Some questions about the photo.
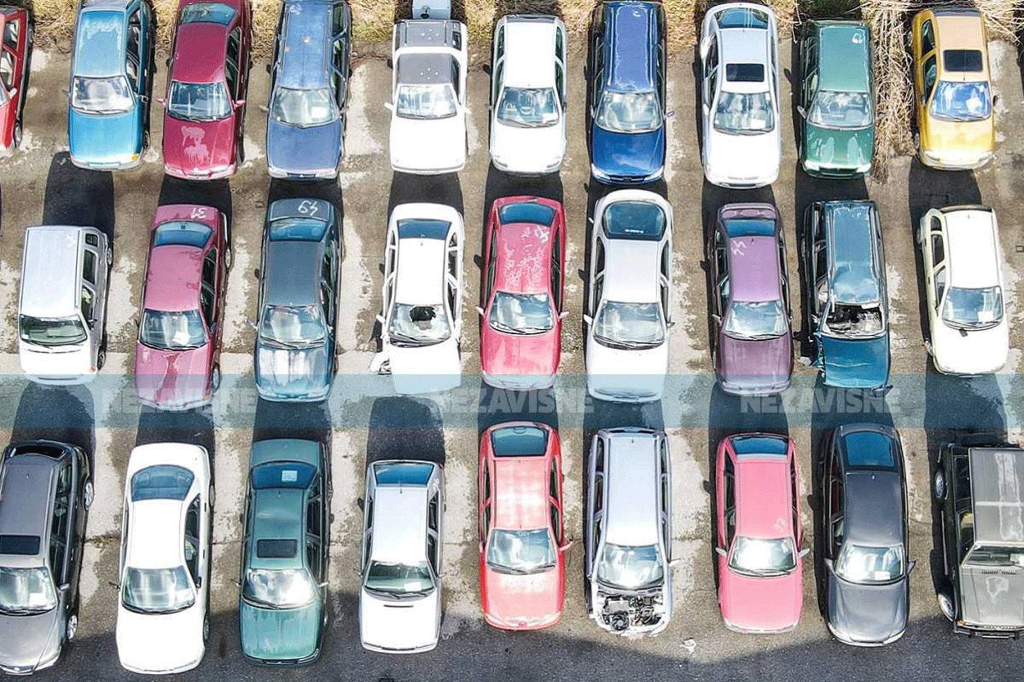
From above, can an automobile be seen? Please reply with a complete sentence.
Yes, you can see an automobile in this photo.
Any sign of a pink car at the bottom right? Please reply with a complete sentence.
Yes, the scene does show a pink car at the bottom right.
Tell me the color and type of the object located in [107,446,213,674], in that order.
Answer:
white car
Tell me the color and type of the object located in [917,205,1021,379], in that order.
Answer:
white car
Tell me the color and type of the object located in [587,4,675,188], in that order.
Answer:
blue car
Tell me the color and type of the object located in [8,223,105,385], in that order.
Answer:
white van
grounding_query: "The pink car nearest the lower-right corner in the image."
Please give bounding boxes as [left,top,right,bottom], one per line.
[712,434,811,634]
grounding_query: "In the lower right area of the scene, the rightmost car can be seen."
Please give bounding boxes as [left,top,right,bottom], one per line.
[938,445,1024,637]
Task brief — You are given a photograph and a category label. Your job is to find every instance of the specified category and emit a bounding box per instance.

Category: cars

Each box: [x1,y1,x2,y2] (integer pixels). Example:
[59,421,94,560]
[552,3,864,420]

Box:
[0,0,29,156]
[0,443,85,674]
[698,6,787,191]
[590,430,684,635]
[260,0,347,183]
[156,0,250,184]
[803,203,900,393]
[352,463,448,653]
[128,209,231,410]
[909,9,1002,173]
[712,434,811,634]
[107,446,213,674]
[798,21,885,181]
[374,211,470,395]
[705,205,800,395]
[476,200,568,391]
[580,196,676,404]
[227,442,328,666]
[60,5,151,173]
[248,203,343,403]
[384,18,470,177]
[477,424,571,631]
[817,428,923,646]
[938,445,1024,637]
[485,17,572,179]
[917,205,1021,379]
[587,4,675,188]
